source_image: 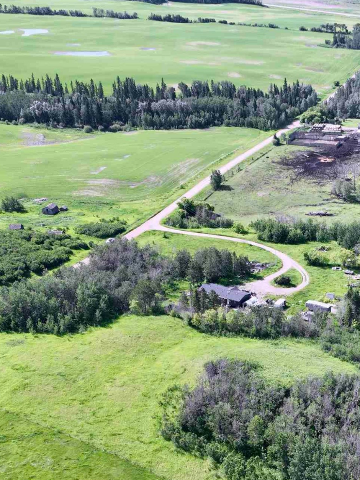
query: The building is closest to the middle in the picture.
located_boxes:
[192,280,252,308]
